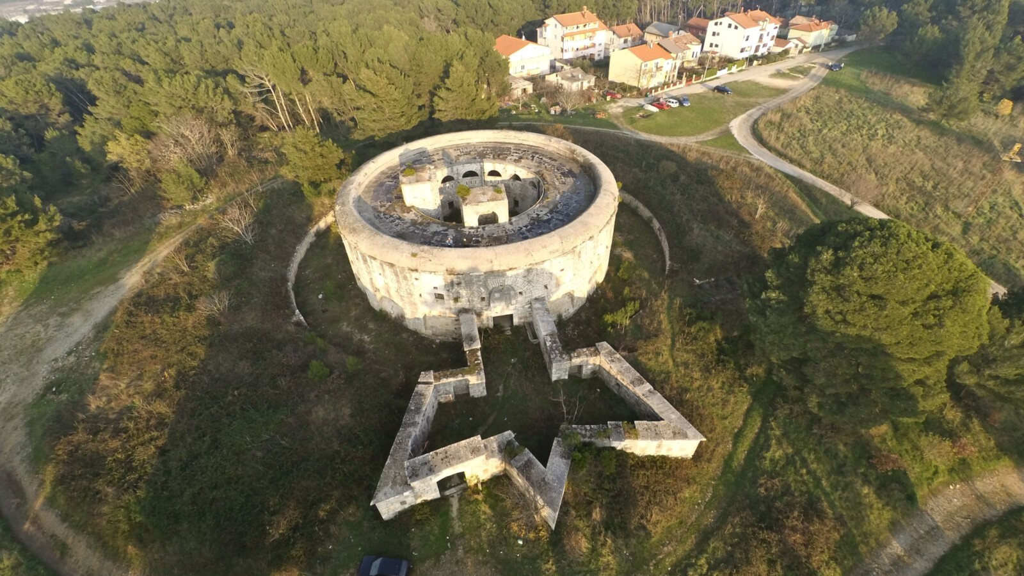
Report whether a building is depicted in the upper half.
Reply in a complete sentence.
Yes, in the upper half there is a building.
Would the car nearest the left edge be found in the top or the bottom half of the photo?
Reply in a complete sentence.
The bottom half of the photo is where the car nearest the left edge is.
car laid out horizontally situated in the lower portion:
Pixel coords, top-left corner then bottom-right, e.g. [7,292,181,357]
[357,554,410,576]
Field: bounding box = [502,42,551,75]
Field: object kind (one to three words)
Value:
house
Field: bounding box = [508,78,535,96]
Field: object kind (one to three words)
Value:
shed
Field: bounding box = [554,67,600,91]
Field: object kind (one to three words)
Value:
house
